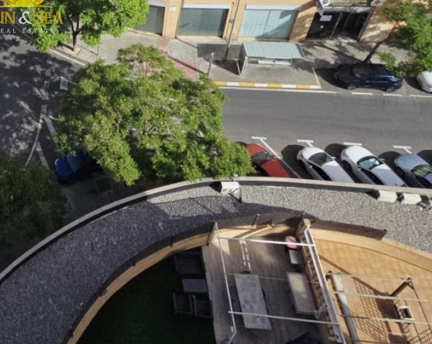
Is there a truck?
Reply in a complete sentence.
No, no truck is visible in the view.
